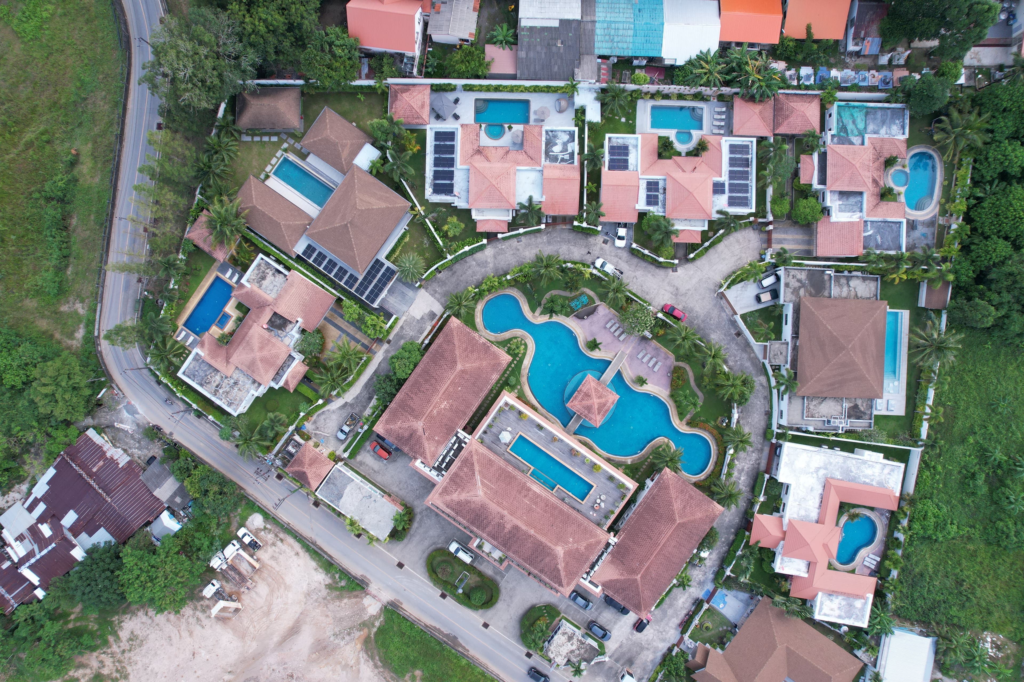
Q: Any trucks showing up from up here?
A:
Yes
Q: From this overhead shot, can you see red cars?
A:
Yes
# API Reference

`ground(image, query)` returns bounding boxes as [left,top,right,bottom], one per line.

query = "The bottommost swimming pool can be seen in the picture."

[831,509,883,570]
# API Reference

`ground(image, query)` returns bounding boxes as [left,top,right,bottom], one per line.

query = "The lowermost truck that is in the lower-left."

[194,580,237,628]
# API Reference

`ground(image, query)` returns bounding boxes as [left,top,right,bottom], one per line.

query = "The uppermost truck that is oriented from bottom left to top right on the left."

[336,413,358,441]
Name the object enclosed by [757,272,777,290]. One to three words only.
car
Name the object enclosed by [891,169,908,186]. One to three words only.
swimming pool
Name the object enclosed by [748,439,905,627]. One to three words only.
house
